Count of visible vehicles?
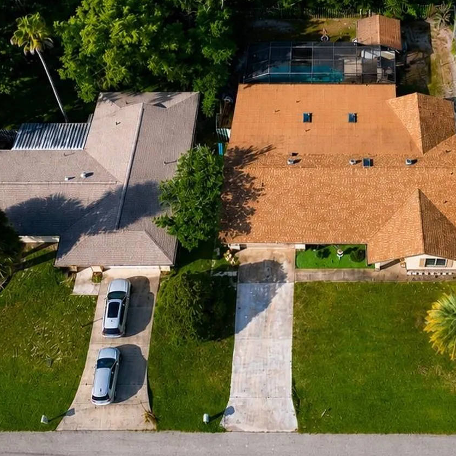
two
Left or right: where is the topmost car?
left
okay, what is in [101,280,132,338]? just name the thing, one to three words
car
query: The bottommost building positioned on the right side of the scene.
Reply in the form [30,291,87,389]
[222,83,456,272]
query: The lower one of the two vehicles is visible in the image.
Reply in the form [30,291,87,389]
[90,349,122,406]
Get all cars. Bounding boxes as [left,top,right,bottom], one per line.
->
[90,349,122,406]
[101,280,132,338]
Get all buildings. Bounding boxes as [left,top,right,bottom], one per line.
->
[0,91,197,284]
[357,15,404,60]
[222,83,456,272]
